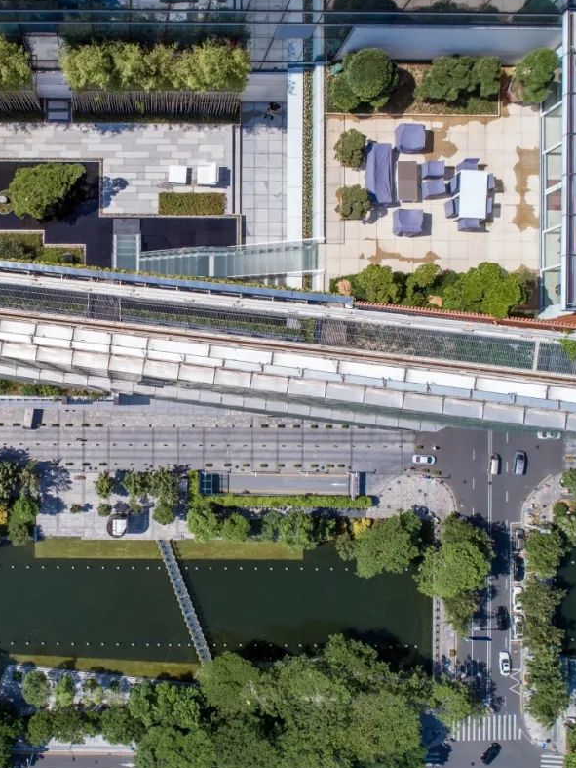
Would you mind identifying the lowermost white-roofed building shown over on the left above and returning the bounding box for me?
[106,511,129,538]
